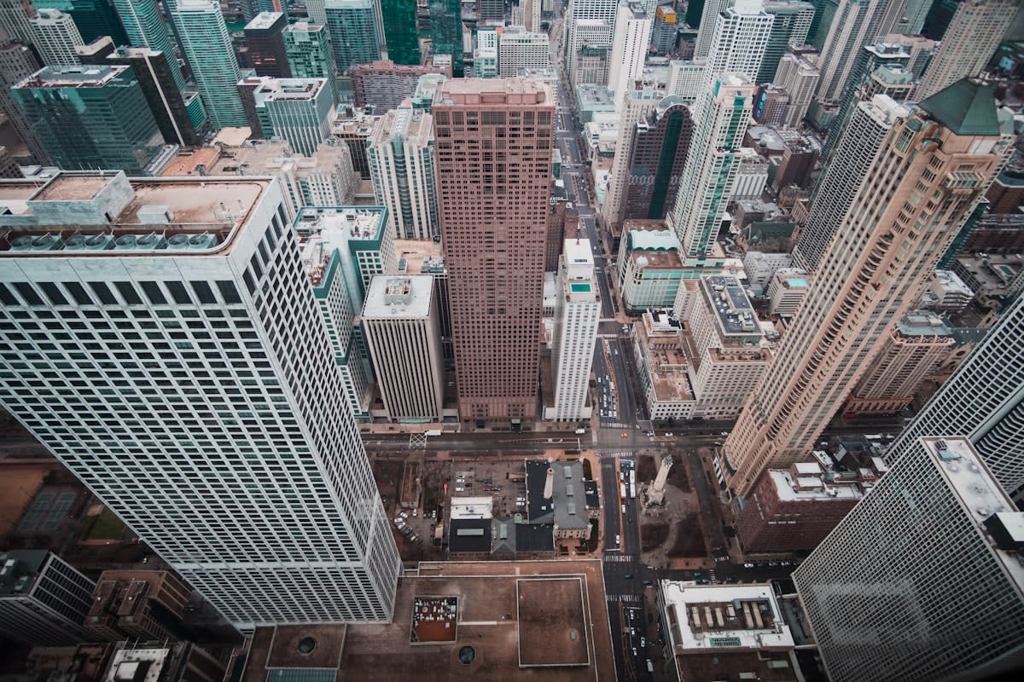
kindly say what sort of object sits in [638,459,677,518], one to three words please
water tower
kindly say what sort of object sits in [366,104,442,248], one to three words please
building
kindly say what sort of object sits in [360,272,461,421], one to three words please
building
